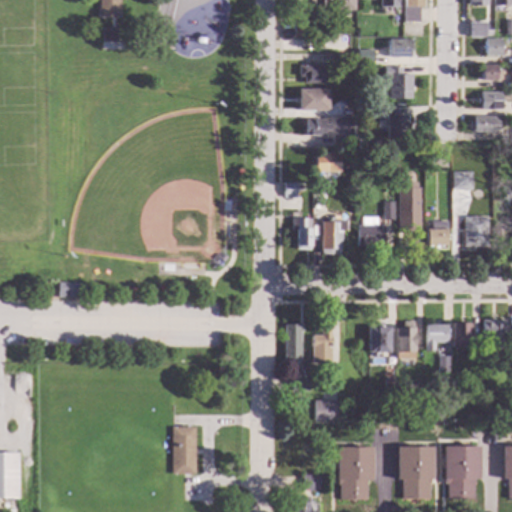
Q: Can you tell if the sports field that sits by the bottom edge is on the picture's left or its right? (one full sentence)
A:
The sports field that sits by the bottom edge appears in the left half of the scene.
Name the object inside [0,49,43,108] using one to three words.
soccer field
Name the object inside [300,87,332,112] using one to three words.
house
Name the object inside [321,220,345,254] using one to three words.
house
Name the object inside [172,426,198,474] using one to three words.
building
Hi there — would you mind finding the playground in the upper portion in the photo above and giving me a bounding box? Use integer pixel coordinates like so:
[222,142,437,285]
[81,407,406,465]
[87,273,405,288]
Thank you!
[174,0,230,59]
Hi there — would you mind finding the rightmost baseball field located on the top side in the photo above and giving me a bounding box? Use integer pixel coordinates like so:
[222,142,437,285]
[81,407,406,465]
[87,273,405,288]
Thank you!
[70,105,226,263]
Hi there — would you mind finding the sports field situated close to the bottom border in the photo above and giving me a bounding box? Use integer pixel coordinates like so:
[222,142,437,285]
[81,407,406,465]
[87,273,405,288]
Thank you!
[40,361,186,512]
